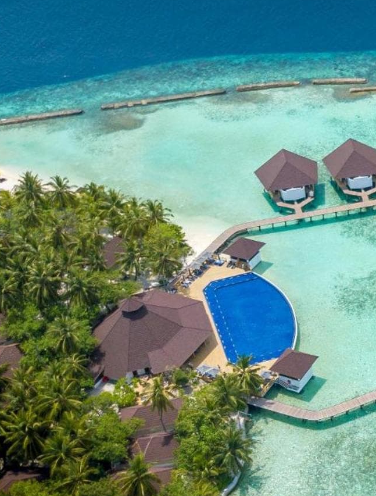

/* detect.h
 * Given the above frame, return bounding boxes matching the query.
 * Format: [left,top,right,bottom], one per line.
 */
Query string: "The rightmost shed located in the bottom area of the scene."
[269,347,320,401]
